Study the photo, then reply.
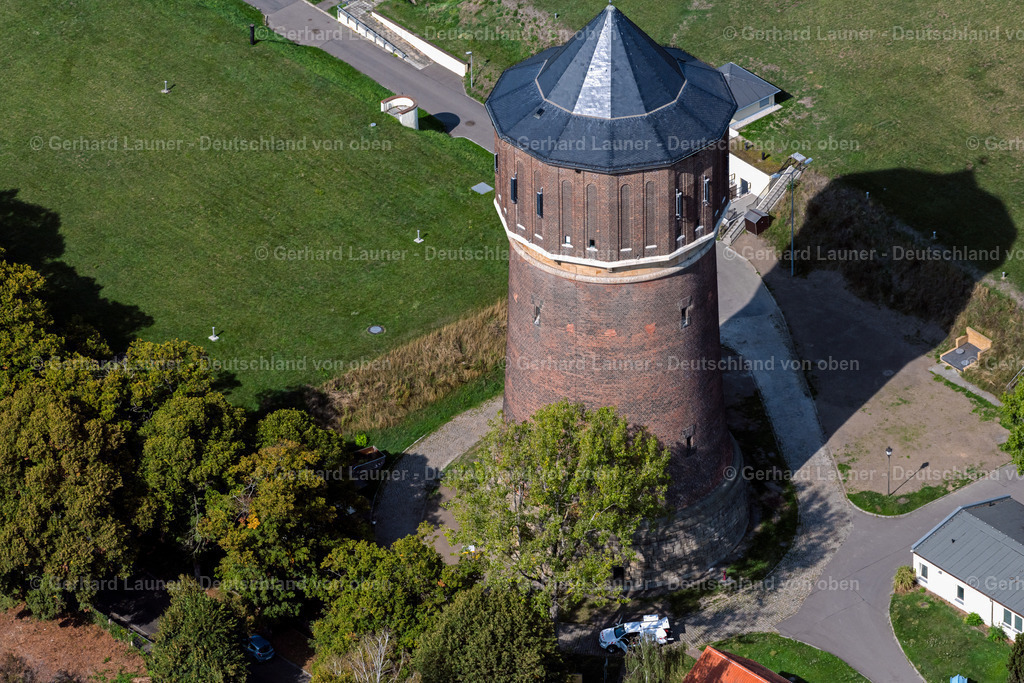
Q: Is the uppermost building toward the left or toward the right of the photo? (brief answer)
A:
right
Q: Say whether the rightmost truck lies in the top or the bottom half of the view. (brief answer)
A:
bottom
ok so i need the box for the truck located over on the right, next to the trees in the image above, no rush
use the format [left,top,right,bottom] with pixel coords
[597,609,674,652]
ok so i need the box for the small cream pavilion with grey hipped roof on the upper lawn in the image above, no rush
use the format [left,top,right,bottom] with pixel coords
[716,62,783,135]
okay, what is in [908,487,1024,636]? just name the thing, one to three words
building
